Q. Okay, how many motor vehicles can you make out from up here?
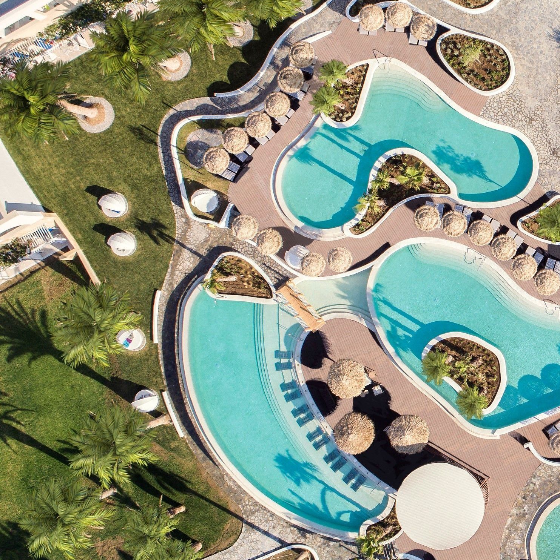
0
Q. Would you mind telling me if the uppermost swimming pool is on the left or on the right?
right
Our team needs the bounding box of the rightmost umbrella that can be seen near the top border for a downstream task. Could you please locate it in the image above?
[411,15,437,41]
